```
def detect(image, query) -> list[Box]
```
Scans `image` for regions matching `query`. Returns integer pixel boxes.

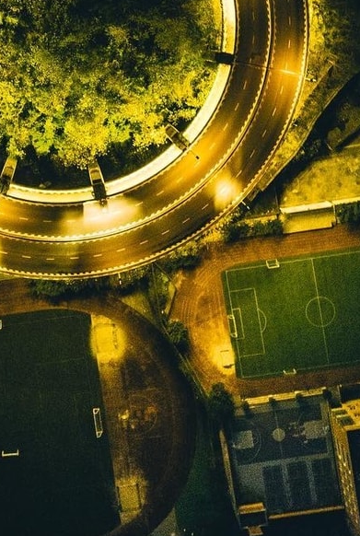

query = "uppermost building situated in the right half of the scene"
[279,202,335,234]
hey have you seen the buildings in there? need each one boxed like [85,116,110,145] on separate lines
[223,387,357,532]
[279,202,335,234]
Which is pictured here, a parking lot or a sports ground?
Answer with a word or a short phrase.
sports ground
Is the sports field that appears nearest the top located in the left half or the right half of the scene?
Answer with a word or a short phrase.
right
